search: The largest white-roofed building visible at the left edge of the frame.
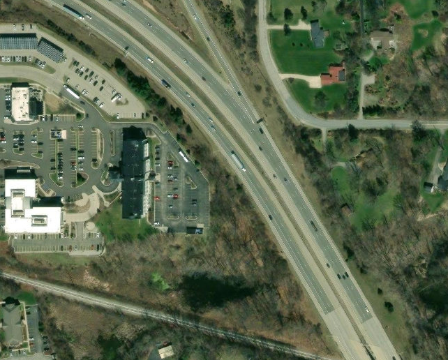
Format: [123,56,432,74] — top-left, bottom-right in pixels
[4,179,64,232]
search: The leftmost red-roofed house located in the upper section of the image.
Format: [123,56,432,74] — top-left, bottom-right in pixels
[320,65,346,85]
